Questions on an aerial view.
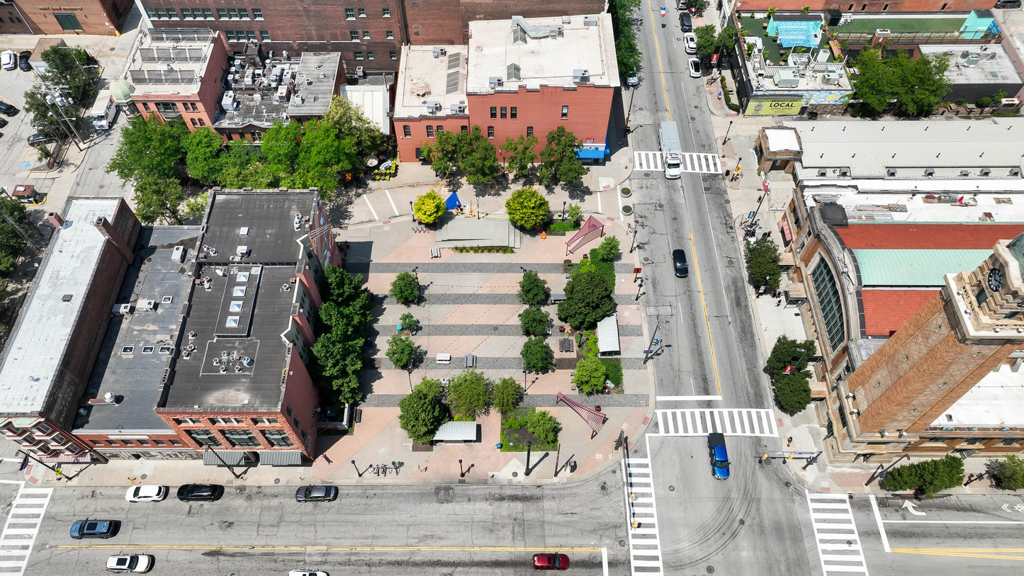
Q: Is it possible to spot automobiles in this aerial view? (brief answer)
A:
Yes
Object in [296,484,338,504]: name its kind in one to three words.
car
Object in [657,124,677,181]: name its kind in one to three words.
vehicle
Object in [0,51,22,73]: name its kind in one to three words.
car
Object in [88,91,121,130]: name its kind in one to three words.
truck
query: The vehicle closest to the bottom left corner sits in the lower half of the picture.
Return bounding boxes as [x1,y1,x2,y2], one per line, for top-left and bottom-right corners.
[74,518,120,540]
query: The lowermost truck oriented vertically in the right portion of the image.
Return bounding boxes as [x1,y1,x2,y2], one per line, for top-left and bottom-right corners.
[705,434,727,480]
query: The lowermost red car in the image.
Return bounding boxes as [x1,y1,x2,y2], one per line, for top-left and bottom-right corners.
[530,551,568,572]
